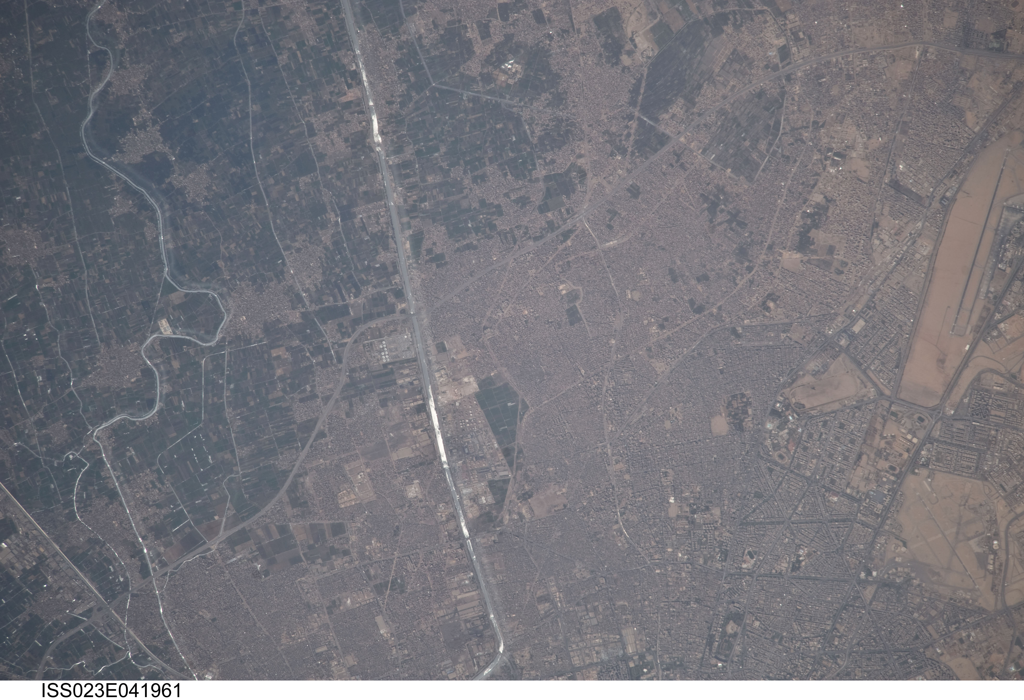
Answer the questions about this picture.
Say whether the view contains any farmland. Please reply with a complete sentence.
Yes, farmland shows up in the scene.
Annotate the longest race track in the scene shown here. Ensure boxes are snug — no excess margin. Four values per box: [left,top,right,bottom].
[789,372,858,412]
